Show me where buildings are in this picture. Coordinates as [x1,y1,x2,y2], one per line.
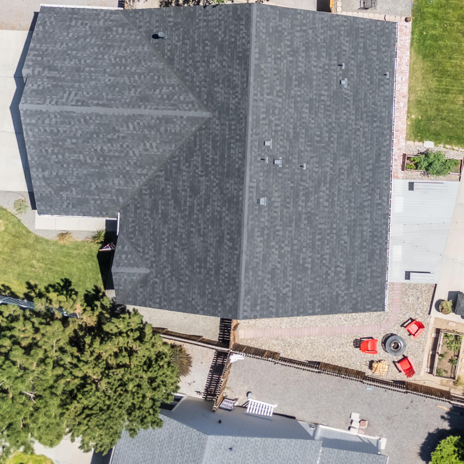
[18,1,404,320]
[103,390,391,464]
